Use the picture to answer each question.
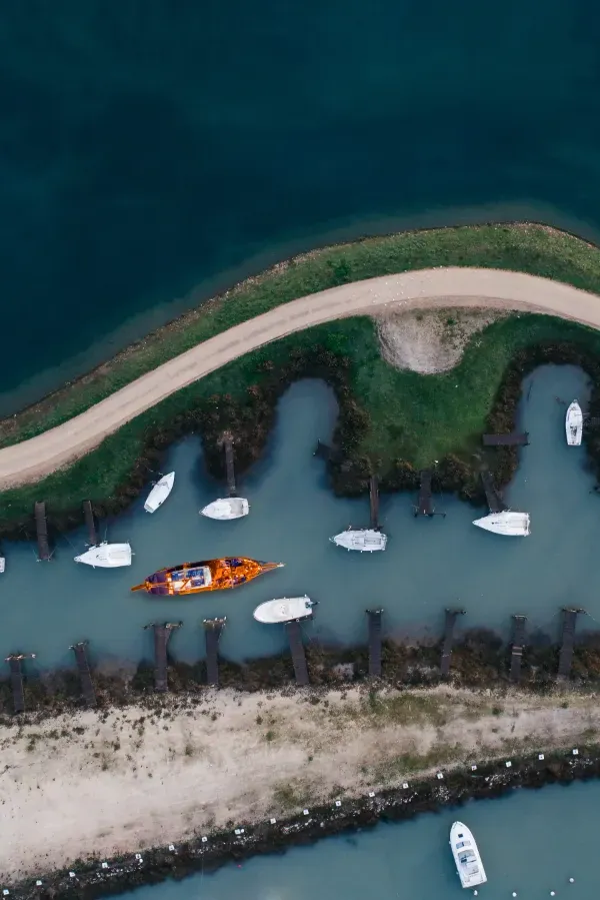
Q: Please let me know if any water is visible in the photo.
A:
Yes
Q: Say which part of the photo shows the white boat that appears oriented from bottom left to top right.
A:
left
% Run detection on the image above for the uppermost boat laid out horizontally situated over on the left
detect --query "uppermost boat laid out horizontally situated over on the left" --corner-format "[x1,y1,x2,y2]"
[198,497,252,520]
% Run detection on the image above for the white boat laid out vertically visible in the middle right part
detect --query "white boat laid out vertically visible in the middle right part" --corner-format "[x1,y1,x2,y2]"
[564,398,587,446]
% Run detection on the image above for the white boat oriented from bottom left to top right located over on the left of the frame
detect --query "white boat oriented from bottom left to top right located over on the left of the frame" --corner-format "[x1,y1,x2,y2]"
[145,472,175,513]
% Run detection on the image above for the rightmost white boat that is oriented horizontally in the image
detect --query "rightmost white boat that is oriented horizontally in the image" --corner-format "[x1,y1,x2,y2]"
[471,509,534,538]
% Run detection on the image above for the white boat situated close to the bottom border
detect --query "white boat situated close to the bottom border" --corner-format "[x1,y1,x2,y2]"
[450,819,488,891]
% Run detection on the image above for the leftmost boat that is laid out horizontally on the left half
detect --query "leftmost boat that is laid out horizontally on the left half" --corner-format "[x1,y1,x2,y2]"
[71,542,136,567]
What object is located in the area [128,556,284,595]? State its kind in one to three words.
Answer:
ship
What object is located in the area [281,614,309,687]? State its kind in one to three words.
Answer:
pier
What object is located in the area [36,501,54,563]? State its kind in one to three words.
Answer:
pier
